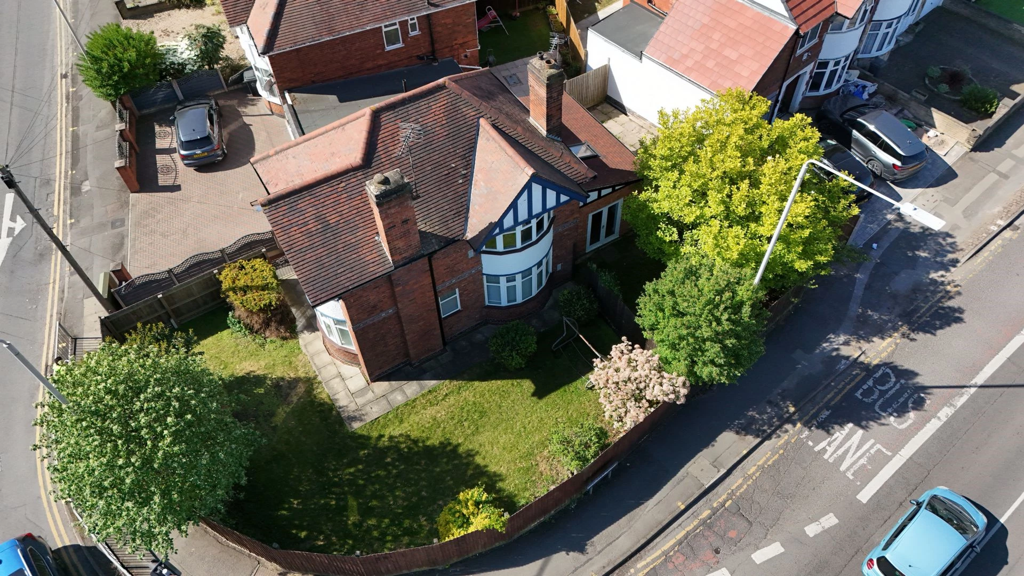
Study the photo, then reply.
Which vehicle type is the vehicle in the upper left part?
automobile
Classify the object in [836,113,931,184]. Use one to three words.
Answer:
car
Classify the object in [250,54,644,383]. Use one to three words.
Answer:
house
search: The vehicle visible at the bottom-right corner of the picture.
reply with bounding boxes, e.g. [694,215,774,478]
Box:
[864,487,983,576]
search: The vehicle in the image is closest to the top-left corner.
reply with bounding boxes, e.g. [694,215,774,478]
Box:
[172,103,225,168]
